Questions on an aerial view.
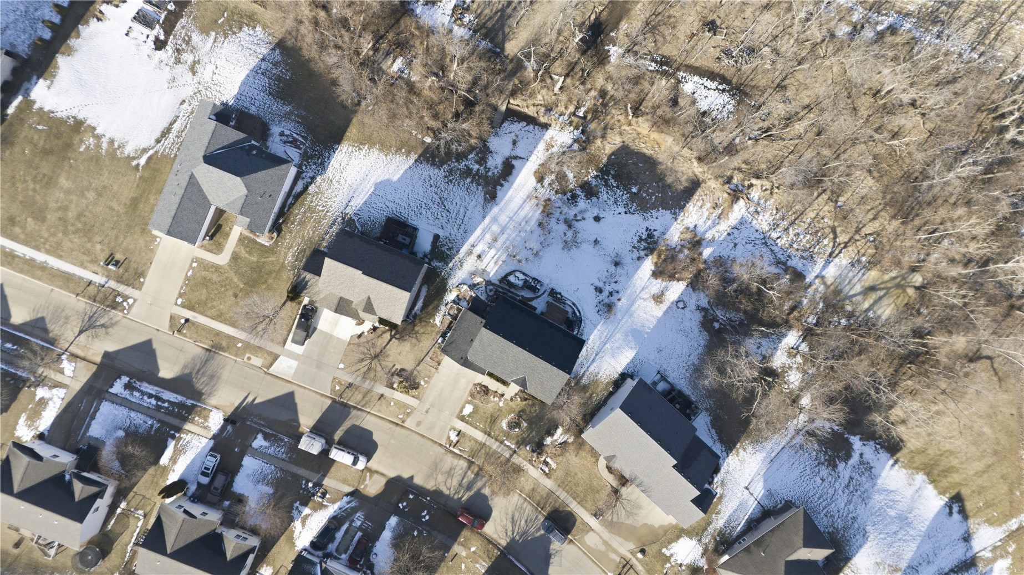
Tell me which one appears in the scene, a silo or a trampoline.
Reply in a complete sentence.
Of the two, only a trampoline appears.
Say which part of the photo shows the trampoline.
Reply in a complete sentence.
The trampoline is located in the bottom left region of the scene.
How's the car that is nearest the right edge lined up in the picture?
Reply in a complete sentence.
I'd say the car that is nearest the right edge is aligned on a diagonal in the picture.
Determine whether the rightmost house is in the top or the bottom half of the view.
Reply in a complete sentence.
The rightmost house sits in the bottom half of the picture.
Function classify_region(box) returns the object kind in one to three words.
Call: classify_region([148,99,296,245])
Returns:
house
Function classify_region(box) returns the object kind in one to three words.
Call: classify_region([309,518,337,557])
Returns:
car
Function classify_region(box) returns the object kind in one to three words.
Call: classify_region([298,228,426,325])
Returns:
house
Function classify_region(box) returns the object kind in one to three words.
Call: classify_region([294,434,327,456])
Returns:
camper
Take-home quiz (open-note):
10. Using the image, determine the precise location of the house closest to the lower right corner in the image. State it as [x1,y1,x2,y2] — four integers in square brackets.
[714,504,835,575]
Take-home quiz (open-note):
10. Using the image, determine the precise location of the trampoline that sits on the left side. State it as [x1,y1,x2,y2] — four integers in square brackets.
[66,538,105,572]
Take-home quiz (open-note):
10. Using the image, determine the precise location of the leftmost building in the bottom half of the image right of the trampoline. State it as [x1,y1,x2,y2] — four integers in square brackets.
[135,494,266,575]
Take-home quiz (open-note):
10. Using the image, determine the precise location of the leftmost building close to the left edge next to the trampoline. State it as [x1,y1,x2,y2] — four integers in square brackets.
[0,430,125,551]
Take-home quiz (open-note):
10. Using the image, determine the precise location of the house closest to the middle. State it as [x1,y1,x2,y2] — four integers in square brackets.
[440,294,586,405]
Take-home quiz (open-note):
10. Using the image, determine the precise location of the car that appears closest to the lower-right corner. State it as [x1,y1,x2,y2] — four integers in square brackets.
[538,519,572,550]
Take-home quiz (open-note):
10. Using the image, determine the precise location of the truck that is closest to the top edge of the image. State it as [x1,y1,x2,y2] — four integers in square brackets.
[289,303,314,347]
